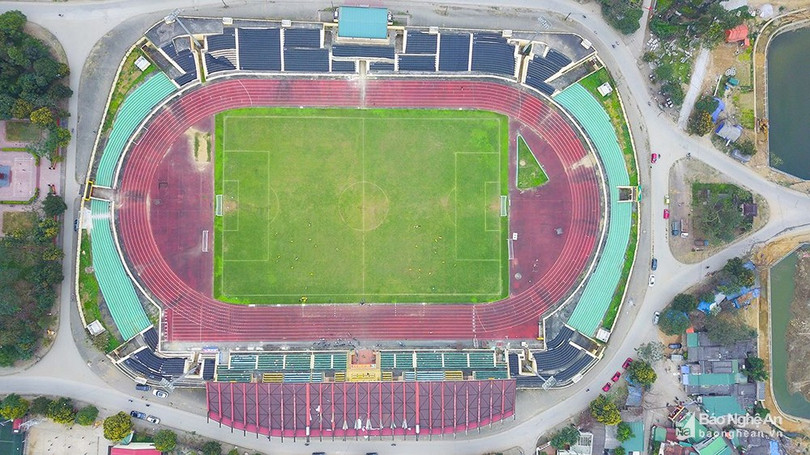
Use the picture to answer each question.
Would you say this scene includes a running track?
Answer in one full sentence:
Yes, the image includes a running track.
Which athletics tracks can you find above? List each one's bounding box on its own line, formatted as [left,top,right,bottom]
[116,79,600,344]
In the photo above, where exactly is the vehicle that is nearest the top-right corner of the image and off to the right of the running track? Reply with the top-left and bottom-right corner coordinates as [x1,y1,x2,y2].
[757,112,770,131]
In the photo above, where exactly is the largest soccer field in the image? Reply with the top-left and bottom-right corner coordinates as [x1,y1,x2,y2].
[213,108,509,305]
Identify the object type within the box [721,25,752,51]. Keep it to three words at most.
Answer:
house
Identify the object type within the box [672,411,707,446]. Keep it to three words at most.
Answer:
house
